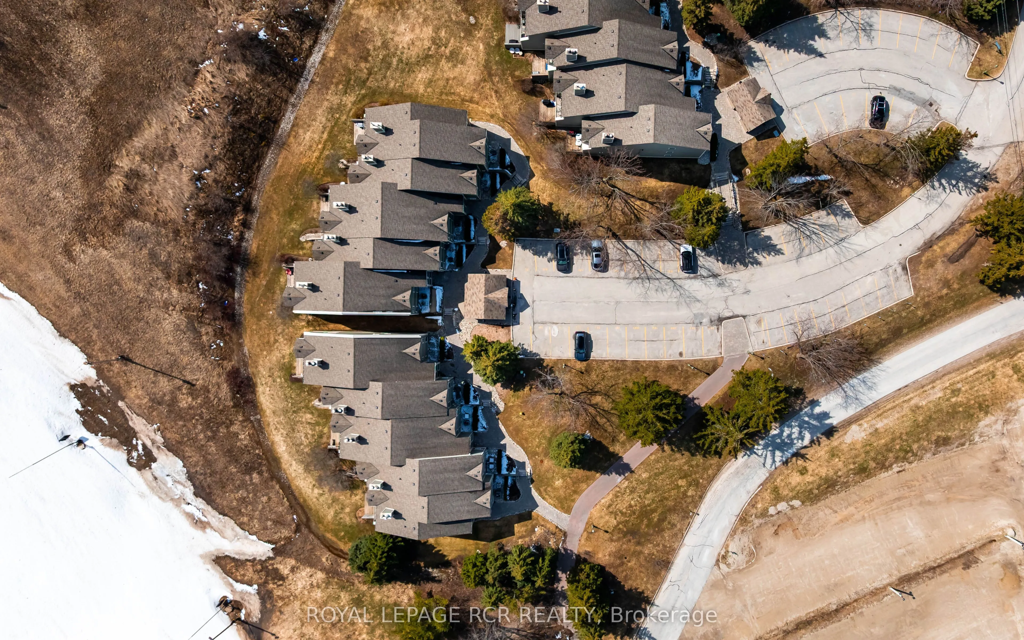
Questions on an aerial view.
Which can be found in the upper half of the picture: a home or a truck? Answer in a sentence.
The feature located in the upper half of the picture is a home.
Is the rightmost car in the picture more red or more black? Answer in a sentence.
The color of the rightmost car is black.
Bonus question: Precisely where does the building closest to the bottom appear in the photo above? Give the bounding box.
[363,483,494,541]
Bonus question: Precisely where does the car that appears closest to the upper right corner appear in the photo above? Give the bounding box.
[867,95,887,129]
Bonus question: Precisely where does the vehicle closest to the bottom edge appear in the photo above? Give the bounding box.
[573,331,588,361]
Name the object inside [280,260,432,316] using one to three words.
house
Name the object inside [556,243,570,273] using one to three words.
car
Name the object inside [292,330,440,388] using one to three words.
house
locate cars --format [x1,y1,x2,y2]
[573,331,588,361]
[867,95,887,129]
[556,243,570,273]
[679,244,693,273]
[590,240,604,271]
